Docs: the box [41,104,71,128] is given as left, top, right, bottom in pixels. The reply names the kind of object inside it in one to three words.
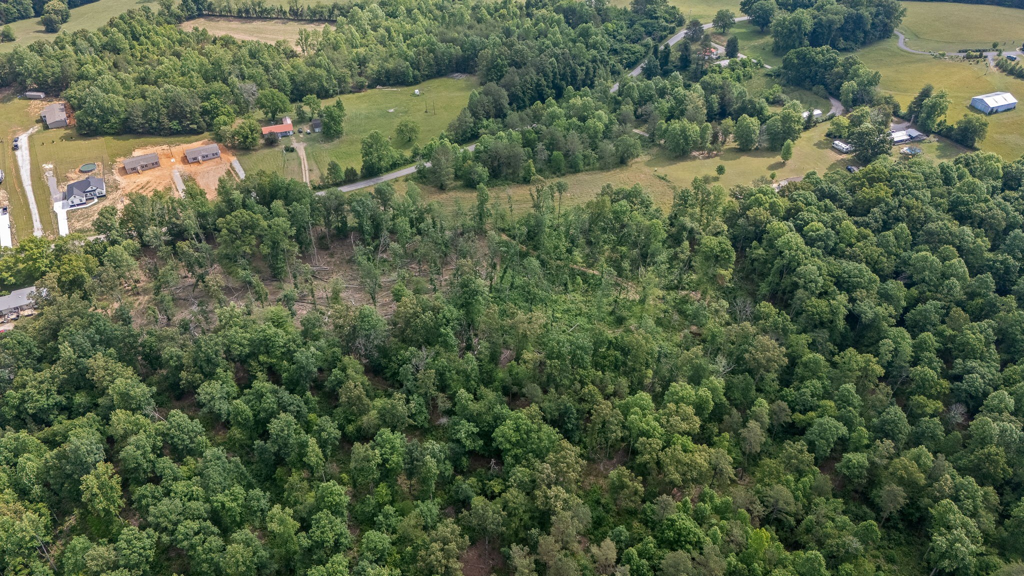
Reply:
house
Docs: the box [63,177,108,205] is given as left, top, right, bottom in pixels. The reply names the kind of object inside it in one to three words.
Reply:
house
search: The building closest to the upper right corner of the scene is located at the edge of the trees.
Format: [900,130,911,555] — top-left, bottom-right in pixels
[968,93,1020,114]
